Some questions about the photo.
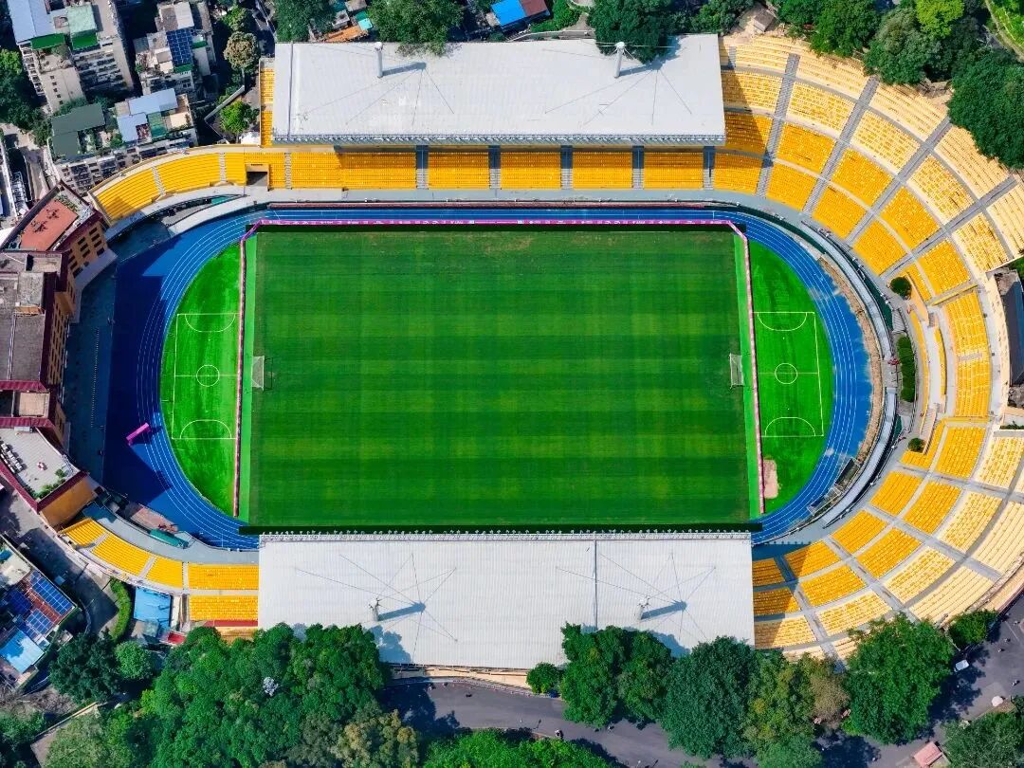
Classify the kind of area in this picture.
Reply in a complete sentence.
This looks like a sports ground.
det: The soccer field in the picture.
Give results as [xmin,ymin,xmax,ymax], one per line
[238,224,762,534]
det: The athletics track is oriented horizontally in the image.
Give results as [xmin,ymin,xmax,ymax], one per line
[102,207,873,550]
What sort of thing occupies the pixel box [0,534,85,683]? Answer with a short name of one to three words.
house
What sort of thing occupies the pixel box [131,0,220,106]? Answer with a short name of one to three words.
building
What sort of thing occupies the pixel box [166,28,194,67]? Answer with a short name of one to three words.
solar array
